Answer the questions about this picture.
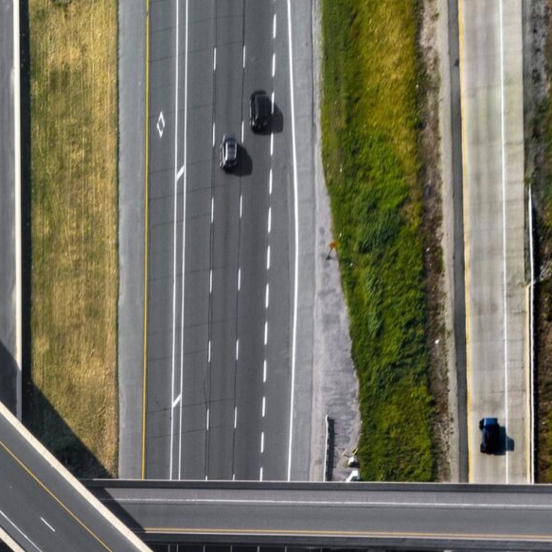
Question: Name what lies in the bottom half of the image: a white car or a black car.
black car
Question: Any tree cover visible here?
No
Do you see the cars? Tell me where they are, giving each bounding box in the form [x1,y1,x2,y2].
[219,136,237,169]
[478,419,499,452]
[250,94,270,131]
